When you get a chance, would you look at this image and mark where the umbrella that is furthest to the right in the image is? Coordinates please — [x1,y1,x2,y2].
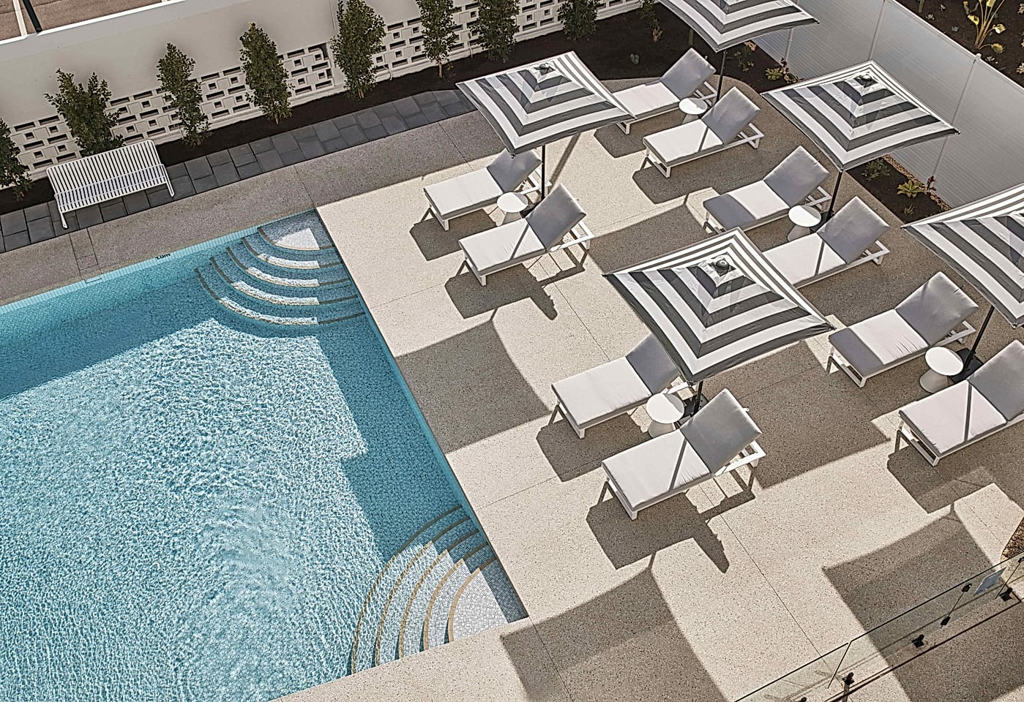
[900,179,1024,384]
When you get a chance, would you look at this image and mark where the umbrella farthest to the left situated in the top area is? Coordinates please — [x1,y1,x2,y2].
[457,49,637,214]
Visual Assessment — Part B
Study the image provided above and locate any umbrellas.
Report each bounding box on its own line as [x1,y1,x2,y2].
[602,225,837,427]
[457,49,637,214]
[759,60,961,235]
[900,179,1024,384]
[655,0,821,118]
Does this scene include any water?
Yes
